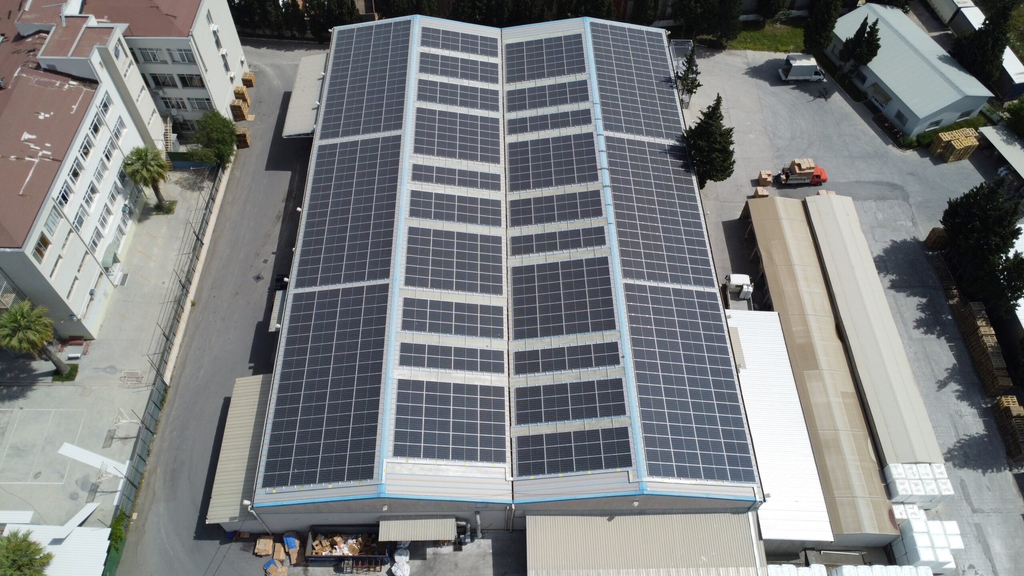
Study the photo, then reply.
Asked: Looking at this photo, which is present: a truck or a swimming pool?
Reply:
truck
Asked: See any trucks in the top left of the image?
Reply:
No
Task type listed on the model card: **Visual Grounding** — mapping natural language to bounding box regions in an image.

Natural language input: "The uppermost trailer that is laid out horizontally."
[901,0,969,29]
